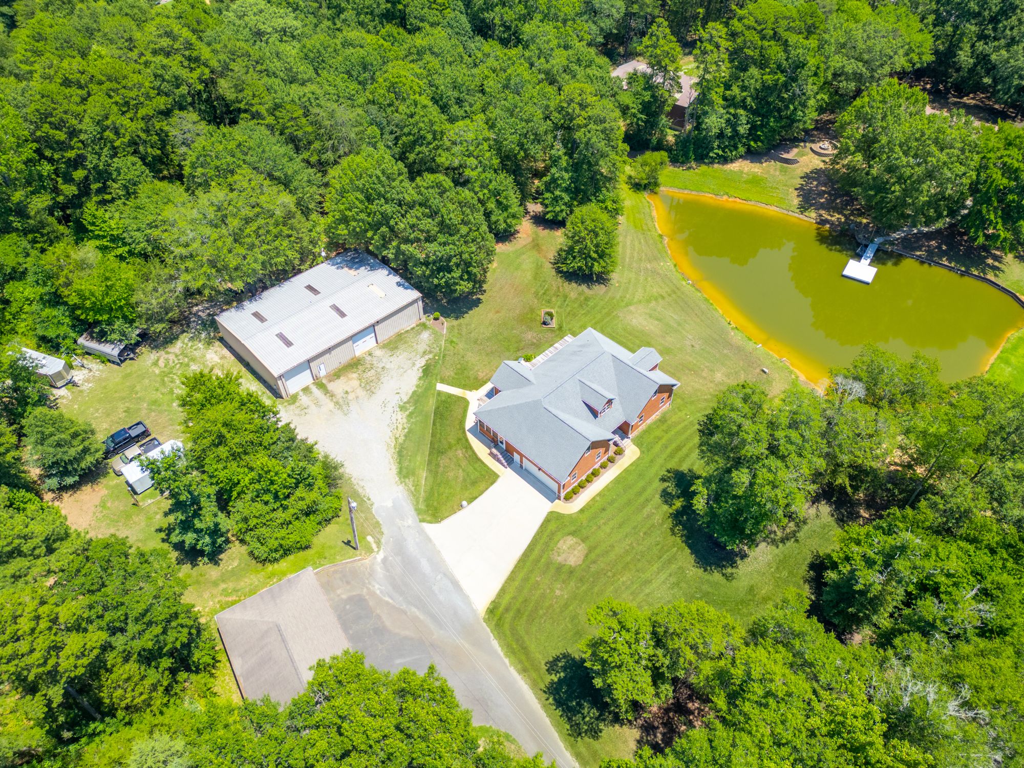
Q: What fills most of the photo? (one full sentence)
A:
The bulk of the photo consists of trees.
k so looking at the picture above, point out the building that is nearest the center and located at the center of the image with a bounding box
[472,327,680,499]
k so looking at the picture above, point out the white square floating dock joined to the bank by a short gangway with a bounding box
[842,243,878,285]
